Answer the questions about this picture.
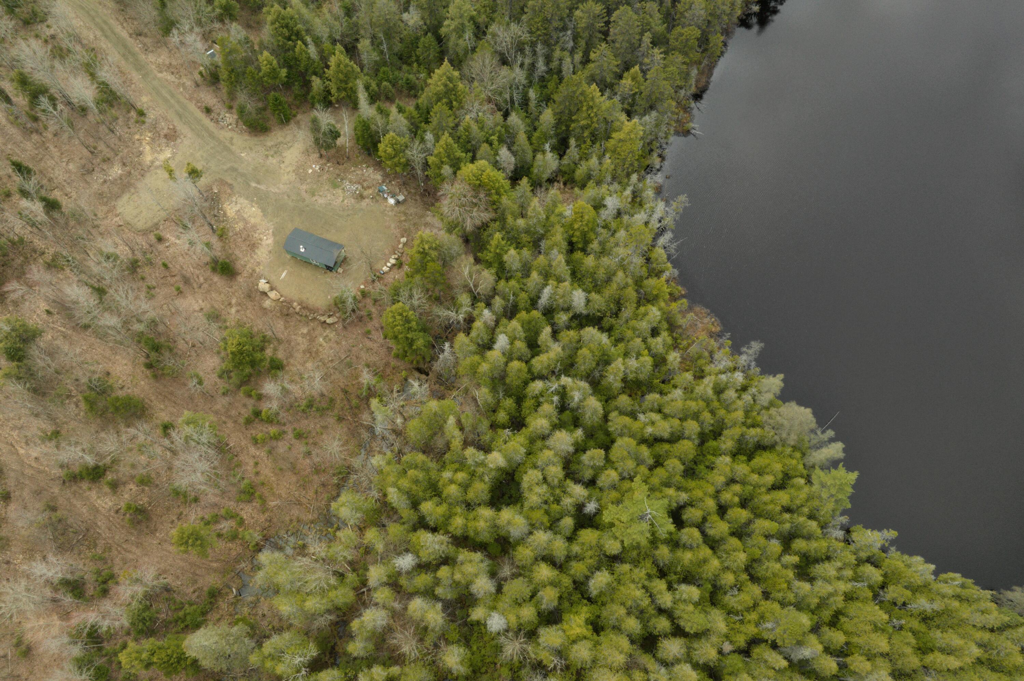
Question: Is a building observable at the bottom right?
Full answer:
No, the scene shows no building at the bottom right.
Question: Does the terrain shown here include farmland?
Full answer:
No, there's no farmland in this view.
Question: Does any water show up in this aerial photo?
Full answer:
Yes, water can be seen from above here.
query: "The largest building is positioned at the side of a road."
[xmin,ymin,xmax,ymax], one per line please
[283,228,346,272]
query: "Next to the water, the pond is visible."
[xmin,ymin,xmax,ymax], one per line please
[656,0,1024,623]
